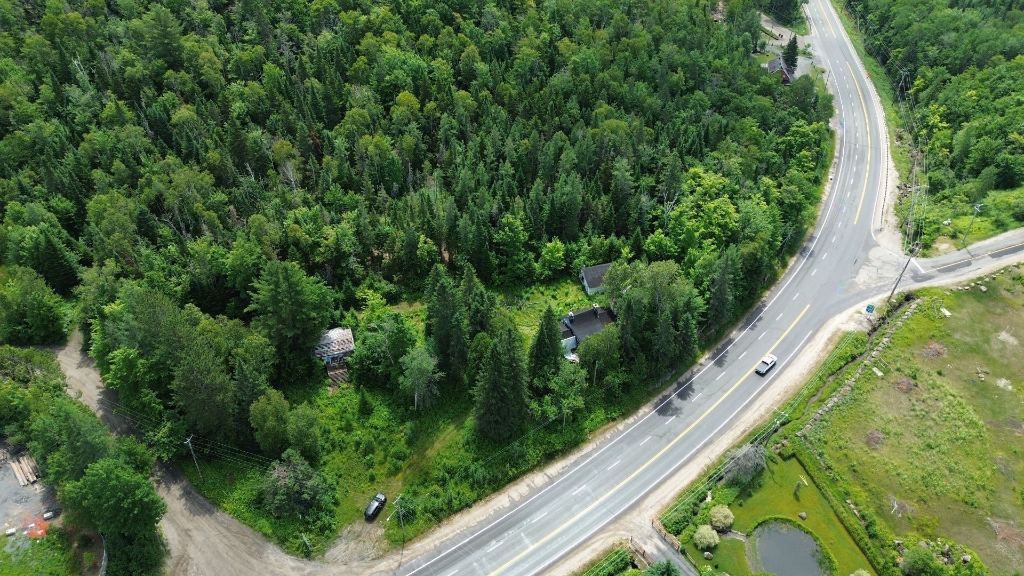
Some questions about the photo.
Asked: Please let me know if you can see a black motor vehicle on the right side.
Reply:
No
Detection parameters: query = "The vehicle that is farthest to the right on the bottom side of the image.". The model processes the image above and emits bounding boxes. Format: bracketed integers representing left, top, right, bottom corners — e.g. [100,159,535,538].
[754,356,779,378]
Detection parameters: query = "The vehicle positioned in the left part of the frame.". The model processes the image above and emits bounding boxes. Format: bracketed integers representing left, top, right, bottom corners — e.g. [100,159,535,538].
[363,494,386,522]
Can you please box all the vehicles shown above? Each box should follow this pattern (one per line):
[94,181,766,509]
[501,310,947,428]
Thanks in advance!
[363,494,386,522]
[754,356,779,378]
